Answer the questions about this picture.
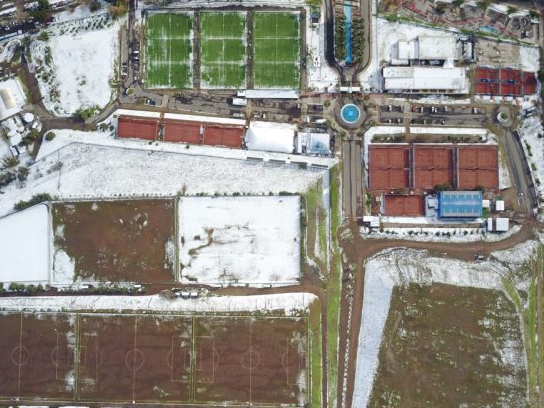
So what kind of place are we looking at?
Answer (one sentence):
It's a sports ground.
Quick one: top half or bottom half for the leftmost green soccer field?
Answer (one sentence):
You can find the leftmost green soccer field in the top half.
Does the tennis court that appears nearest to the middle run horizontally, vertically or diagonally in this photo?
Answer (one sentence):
The tennis court that appears nearest to the middle is laid out horizontally.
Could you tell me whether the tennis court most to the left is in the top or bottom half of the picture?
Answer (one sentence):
Seen from above, the tennis court most to the left lies in the top half of the view.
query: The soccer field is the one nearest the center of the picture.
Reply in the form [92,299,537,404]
[179,196,300,285]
